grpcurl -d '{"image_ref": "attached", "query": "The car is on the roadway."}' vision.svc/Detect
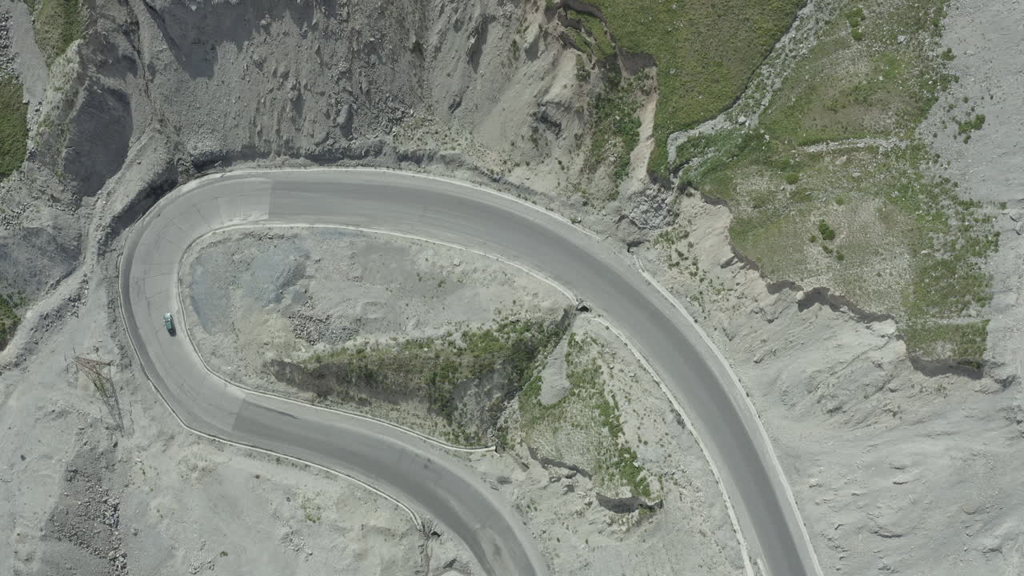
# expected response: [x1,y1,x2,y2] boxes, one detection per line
[163,313,175,333]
